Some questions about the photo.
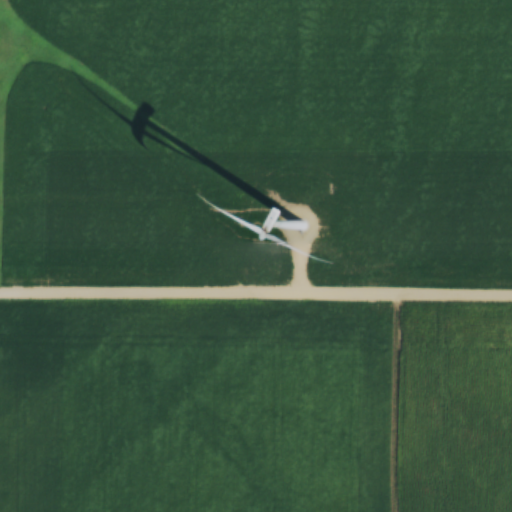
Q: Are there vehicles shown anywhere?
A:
No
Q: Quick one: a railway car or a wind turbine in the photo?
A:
wind turbine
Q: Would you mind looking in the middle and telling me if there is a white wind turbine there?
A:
Yes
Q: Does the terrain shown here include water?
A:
No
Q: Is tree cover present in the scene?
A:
No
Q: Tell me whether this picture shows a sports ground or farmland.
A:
farmland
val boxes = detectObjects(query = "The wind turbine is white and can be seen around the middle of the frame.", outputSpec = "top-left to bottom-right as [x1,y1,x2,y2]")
[196,194,330,264]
